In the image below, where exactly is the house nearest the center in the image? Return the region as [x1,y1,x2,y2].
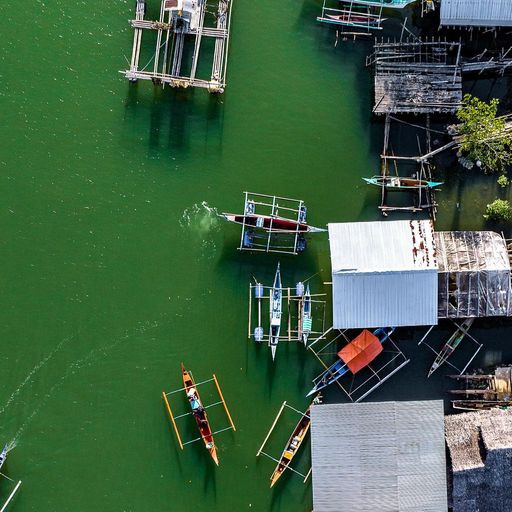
[324,220,439,333]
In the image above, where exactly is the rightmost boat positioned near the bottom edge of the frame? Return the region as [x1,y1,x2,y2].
[257,392,322,488]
